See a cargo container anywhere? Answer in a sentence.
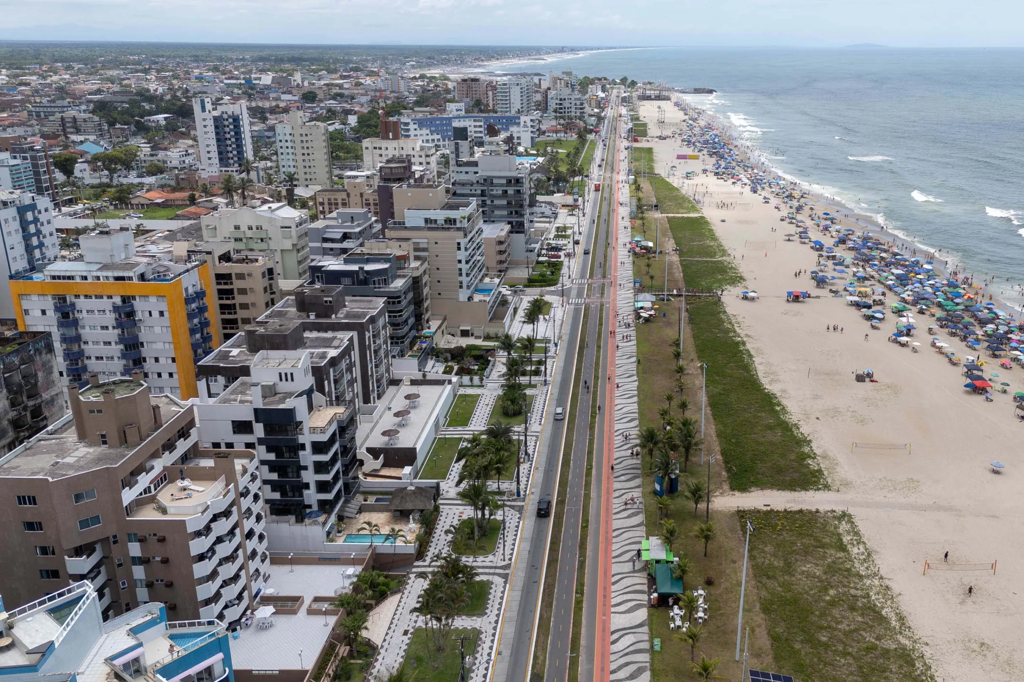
No, I find no cargo container anywhere in the image.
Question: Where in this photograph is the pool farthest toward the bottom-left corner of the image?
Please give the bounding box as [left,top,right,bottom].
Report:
[169,632,218,651]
